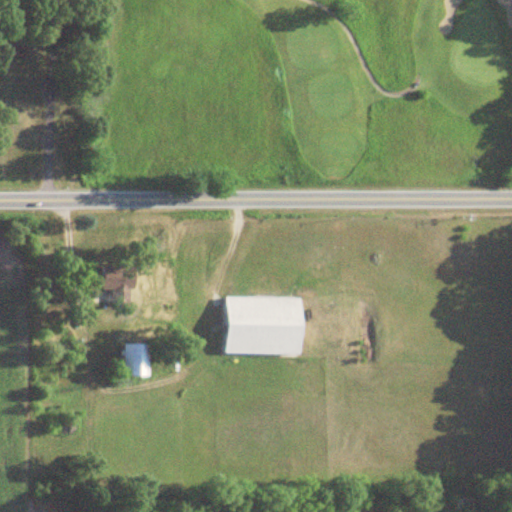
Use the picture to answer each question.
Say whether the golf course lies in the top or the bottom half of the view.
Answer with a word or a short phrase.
top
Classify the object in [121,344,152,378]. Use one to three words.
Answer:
shed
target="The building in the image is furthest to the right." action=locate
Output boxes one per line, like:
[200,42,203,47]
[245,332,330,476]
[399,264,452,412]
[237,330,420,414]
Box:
[224,296,305,357]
